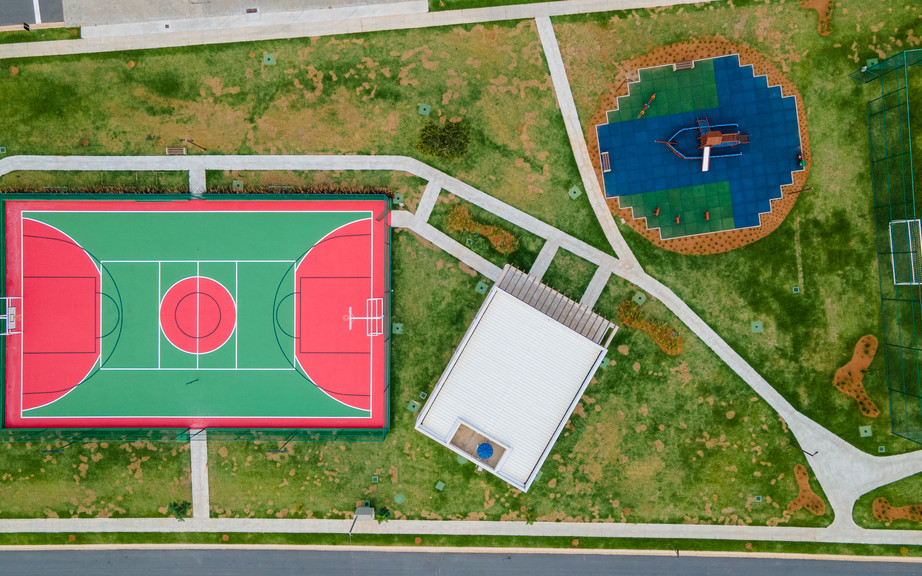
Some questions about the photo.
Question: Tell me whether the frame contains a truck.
No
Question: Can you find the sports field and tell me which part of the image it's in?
right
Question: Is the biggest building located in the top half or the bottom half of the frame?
bottom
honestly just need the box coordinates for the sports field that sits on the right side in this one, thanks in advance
[868,68,922,431]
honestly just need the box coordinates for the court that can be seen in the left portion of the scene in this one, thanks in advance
[5,200,390,428]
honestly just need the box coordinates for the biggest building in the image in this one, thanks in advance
[415,286,608,492]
